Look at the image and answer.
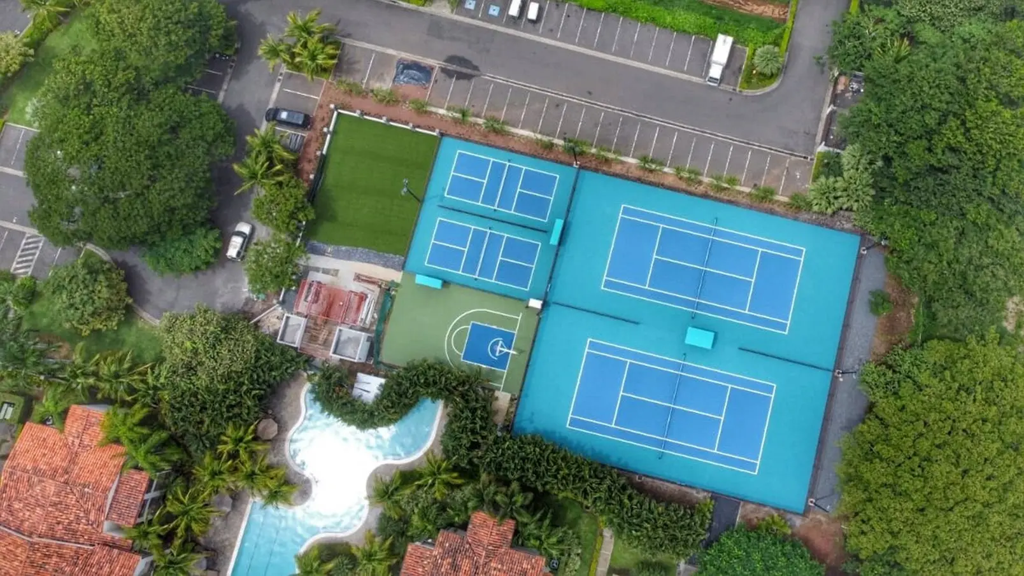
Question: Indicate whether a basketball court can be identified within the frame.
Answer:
Yes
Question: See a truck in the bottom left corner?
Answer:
No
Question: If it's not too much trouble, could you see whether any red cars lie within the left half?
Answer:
No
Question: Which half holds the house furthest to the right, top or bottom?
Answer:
bottom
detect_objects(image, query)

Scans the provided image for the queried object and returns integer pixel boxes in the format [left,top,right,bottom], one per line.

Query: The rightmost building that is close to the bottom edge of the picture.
[399,507,545,576]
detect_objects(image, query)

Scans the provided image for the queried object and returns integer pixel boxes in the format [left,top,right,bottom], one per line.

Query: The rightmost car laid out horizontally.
[270,109,308,129]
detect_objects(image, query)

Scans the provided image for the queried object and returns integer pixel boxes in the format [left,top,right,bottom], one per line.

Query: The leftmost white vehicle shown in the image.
[226,223,253,260]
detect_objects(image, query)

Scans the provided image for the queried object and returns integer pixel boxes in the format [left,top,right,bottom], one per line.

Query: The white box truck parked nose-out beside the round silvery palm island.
[705,28,736,87]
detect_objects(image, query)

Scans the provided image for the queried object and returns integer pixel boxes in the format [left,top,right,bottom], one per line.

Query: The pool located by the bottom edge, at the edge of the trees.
[226,377,442,576]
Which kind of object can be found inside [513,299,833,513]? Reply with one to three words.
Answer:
tennis court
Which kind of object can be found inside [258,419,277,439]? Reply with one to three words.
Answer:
umbrella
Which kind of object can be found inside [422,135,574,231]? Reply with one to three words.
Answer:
sports court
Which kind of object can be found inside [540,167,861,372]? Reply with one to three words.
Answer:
tennis court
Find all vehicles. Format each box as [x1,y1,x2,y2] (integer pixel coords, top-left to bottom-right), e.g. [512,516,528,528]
[705,28,736,87]
[509,0,522,21]
[528,2,541,25]
[226,223,253,260]
[270,109,308,129]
